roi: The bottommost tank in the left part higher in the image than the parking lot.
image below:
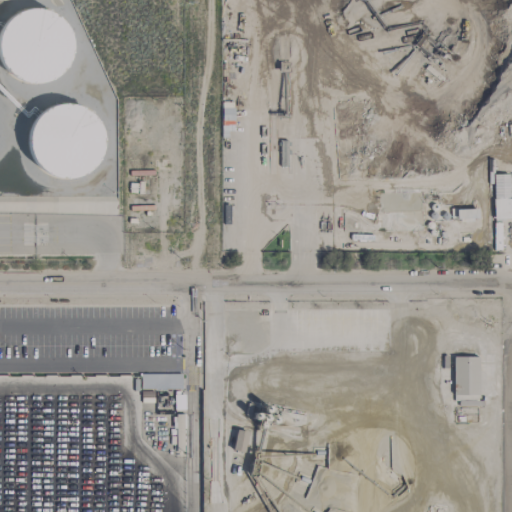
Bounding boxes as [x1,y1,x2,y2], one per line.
[28,104,107,182]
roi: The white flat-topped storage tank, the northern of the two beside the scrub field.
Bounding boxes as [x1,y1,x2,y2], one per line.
[0,8,76,86]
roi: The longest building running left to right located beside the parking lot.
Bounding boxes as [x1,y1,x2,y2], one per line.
[142,374,184,389]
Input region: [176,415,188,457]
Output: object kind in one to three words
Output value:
shed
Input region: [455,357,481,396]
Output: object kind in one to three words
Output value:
building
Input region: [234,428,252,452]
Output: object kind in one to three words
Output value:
shed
